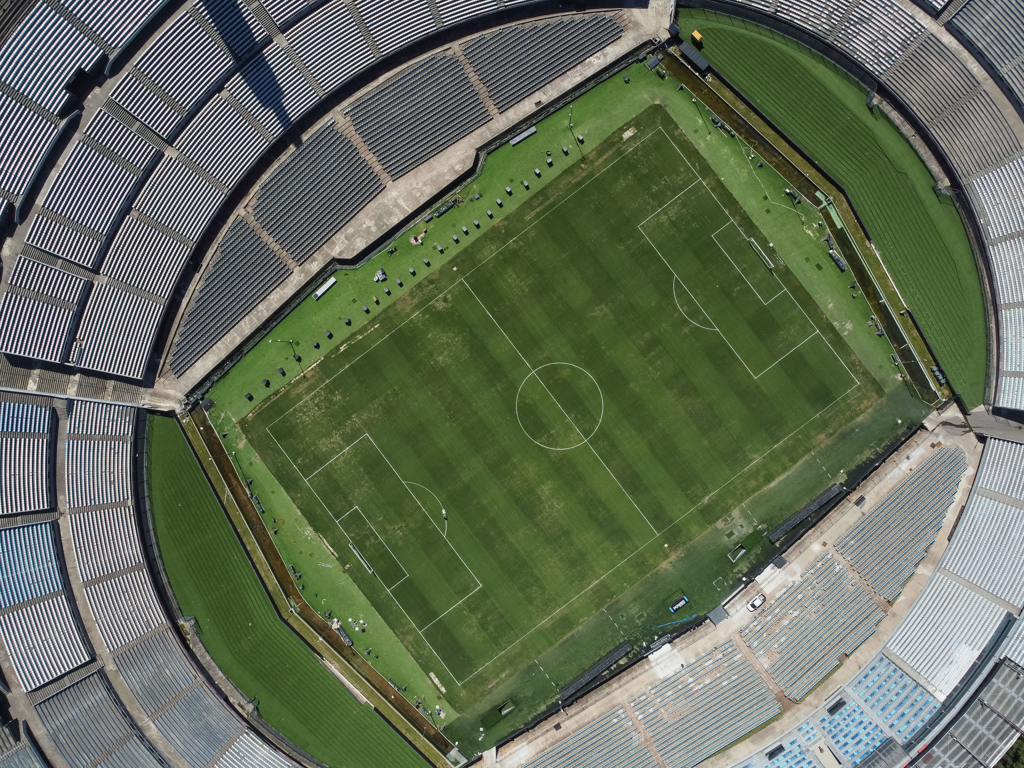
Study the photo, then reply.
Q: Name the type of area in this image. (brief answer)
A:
sports ground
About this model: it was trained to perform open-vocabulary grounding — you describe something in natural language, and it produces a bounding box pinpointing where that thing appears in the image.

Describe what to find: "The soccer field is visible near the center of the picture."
[237,104,886,714]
